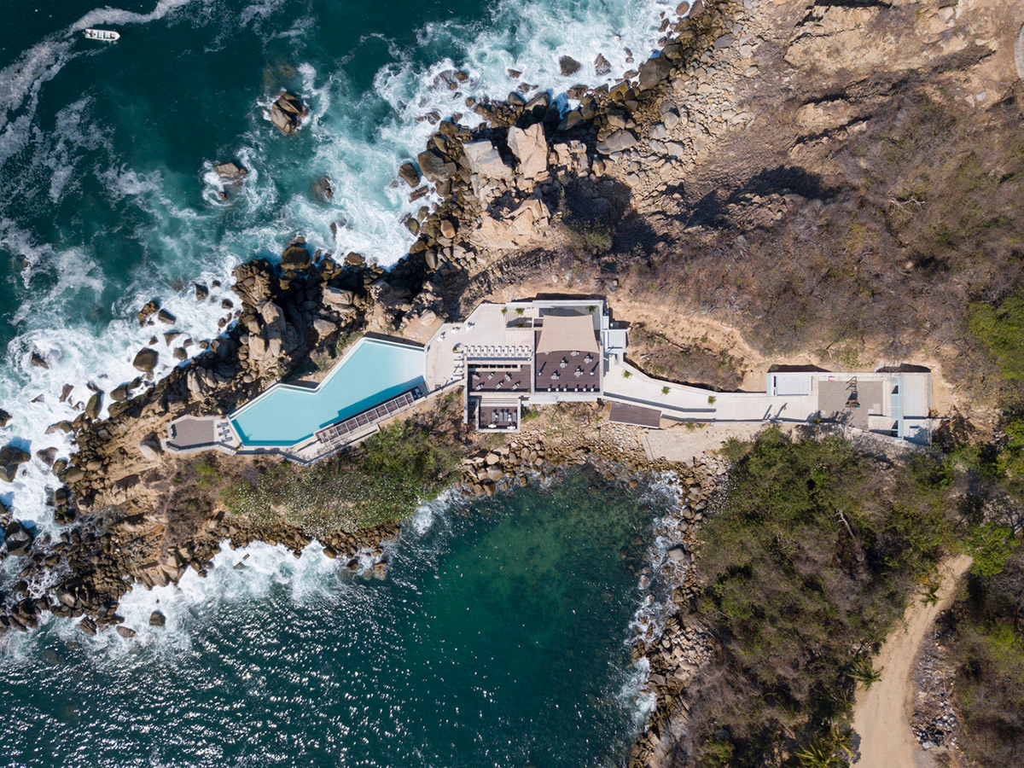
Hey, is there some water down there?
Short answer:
Yes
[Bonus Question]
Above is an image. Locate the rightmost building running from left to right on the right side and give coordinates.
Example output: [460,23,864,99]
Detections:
[766,373,813,396]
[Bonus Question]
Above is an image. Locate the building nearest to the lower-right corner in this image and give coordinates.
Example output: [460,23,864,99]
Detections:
[889,373,931,449]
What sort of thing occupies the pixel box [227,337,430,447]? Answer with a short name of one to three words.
swimming pool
